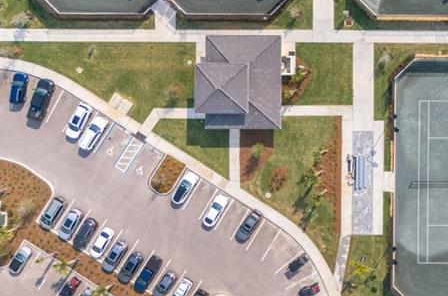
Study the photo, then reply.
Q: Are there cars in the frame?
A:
Yes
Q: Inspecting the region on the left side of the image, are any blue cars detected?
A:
Yes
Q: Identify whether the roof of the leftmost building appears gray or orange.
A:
gray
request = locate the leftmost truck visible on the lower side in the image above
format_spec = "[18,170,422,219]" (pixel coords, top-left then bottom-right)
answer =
[7,243,34,277]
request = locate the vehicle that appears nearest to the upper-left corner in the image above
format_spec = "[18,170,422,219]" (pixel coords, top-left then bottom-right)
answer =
[10,72,29,105]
